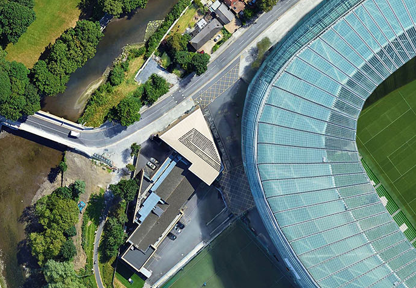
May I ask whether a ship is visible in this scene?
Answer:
No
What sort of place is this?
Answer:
sports ground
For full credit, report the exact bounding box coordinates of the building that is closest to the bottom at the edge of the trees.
[120,157,194,278]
